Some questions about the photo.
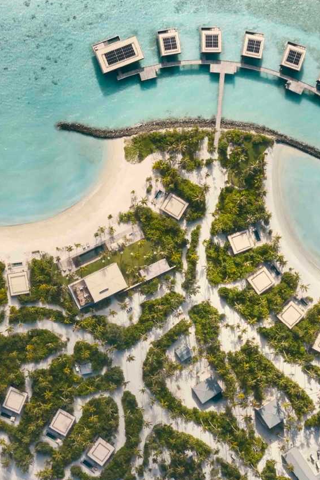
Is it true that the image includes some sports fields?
No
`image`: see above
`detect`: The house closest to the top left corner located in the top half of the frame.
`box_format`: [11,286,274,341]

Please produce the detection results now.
[93,35,144,74]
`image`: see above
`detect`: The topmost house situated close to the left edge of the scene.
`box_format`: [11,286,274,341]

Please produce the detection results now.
[6,260,30,295]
